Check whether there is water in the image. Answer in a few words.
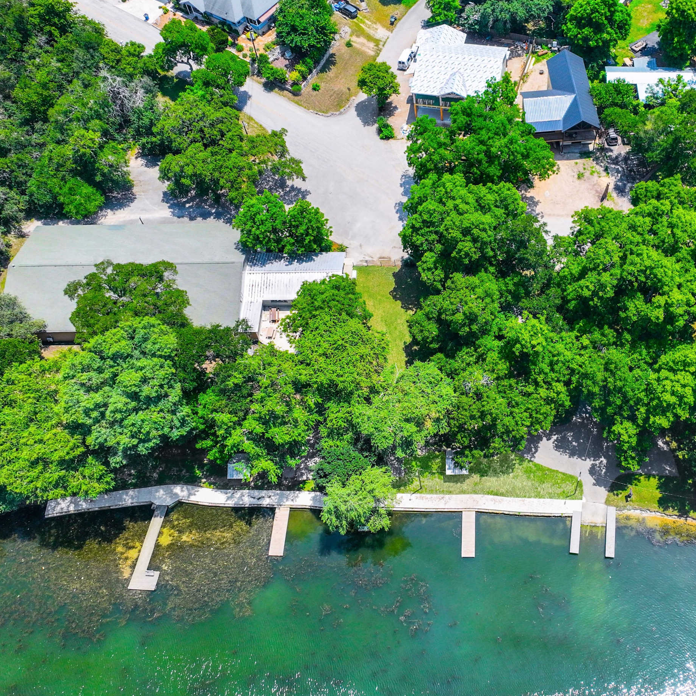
Yes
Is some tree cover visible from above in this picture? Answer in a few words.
Yes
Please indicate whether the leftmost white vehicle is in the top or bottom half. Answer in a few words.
top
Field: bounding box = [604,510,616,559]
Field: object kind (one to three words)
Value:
pier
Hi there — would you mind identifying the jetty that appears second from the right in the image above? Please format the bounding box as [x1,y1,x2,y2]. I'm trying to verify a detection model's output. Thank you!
[568,512,582,555]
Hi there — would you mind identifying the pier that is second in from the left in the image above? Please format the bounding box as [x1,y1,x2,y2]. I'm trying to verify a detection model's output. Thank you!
[269,507,290,557]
